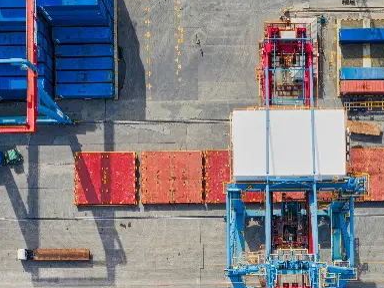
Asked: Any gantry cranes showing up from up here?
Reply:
Yes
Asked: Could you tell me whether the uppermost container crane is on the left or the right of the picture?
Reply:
left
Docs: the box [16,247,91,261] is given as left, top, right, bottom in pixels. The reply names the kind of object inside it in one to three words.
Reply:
vehicle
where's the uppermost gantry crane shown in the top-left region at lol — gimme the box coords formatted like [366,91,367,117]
[0,0,70,137]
